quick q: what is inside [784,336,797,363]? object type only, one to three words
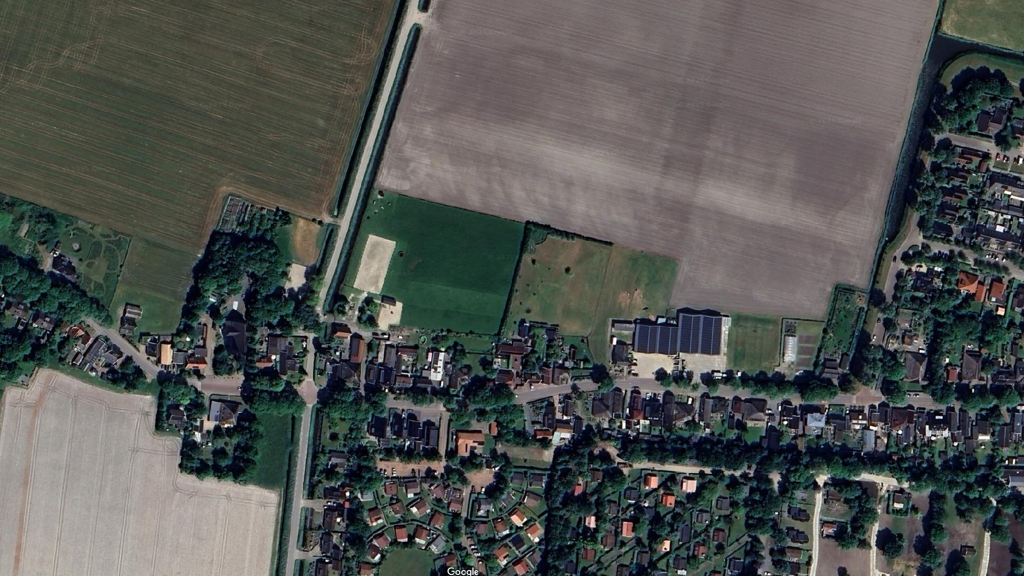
greenhouse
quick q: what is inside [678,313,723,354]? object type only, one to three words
building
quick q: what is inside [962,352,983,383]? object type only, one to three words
house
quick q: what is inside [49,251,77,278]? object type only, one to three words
house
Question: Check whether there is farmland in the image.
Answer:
Yes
